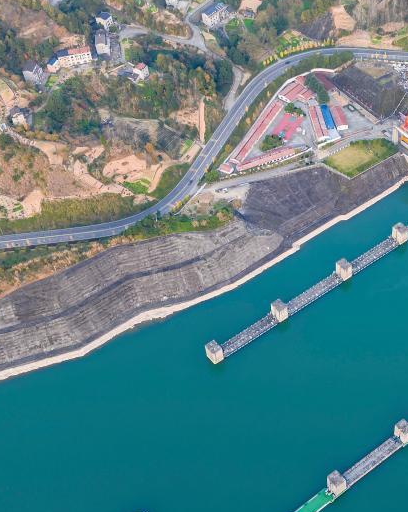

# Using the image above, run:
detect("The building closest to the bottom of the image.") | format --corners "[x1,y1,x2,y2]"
[237,147,297,177]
